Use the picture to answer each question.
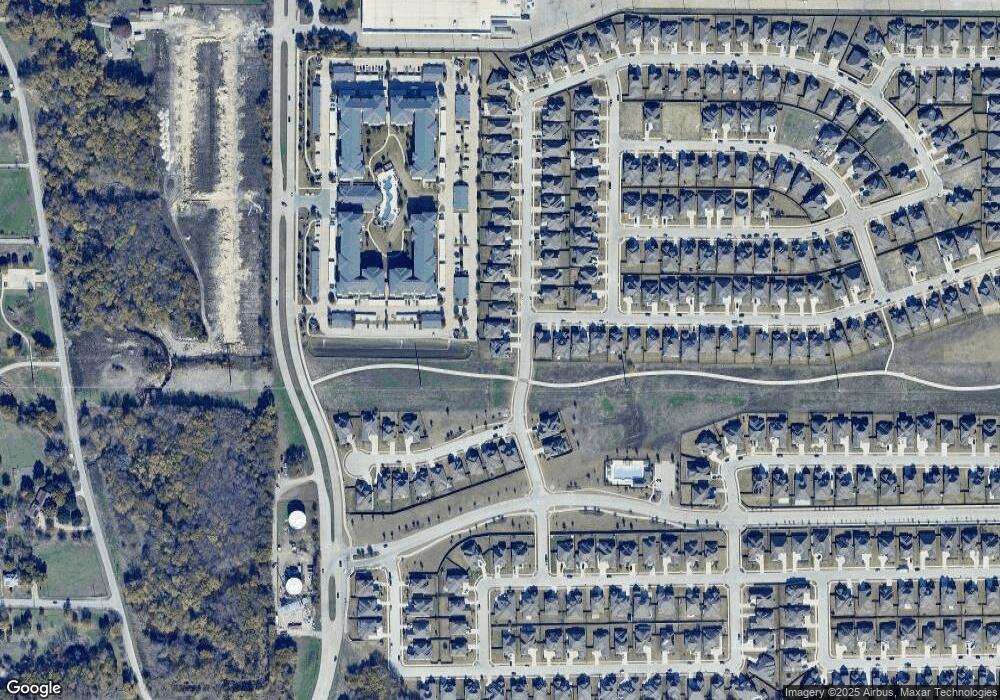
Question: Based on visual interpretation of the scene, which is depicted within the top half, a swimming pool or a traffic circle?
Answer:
swimming pool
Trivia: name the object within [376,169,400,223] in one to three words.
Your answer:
swimming pool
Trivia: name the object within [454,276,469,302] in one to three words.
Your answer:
building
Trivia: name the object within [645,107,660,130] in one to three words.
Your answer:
house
